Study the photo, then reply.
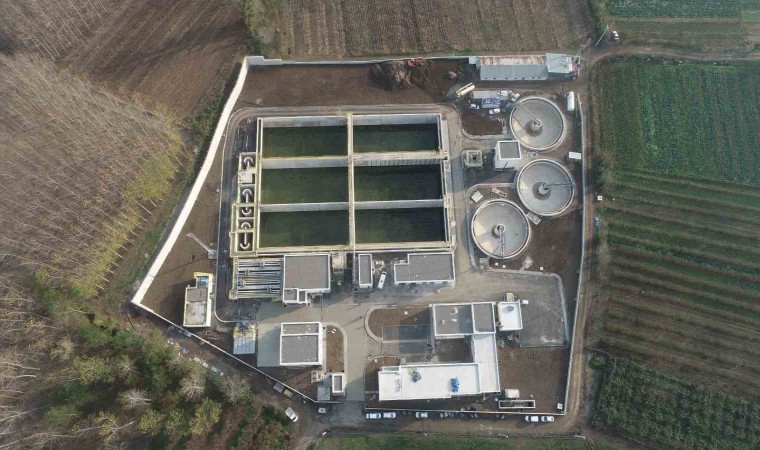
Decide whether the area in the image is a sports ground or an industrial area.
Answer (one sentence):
The picture captures an industrial area.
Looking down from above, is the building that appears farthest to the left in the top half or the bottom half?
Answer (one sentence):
The building that appears farthest to the left sits in the bottom half of the picture.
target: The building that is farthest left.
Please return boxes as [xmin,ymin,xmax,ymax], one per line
[183,273,215,327]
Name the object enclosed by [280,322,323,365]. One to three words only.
building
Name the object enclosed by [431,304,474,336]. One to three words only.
building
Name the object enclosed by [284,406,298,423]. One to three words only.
vehicle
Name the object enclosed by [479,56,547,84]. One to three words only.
shed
